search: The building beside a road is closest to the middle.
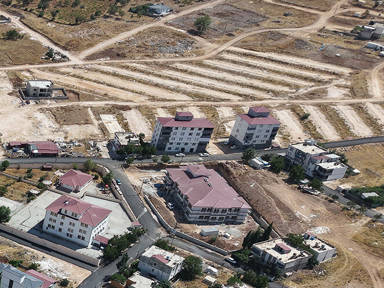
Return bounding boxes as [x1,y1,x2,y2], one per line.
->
[152,111,214,152]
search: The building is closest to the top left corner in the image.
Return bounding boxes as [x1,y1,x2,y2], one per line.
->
[24,80,53,96]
